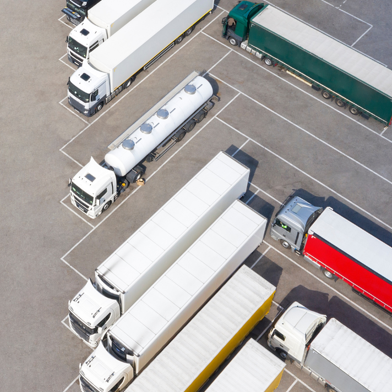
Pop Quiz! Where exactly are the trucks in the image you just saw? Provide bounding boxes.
[66,0,215,115]
[68,70,222,217]
[67,150,251,342]
[220,2,392,128]
[77,200,268,392]
[267,302,392,392]
[66,0,156,67]
[205,338,286,392]
[270,199,392,317]
[127,265,276,392]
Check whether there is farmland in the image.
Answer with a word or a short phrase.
No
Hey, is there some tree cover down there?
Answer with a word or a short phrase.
No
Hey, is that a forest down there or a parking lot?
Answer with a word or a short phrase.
parking lot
